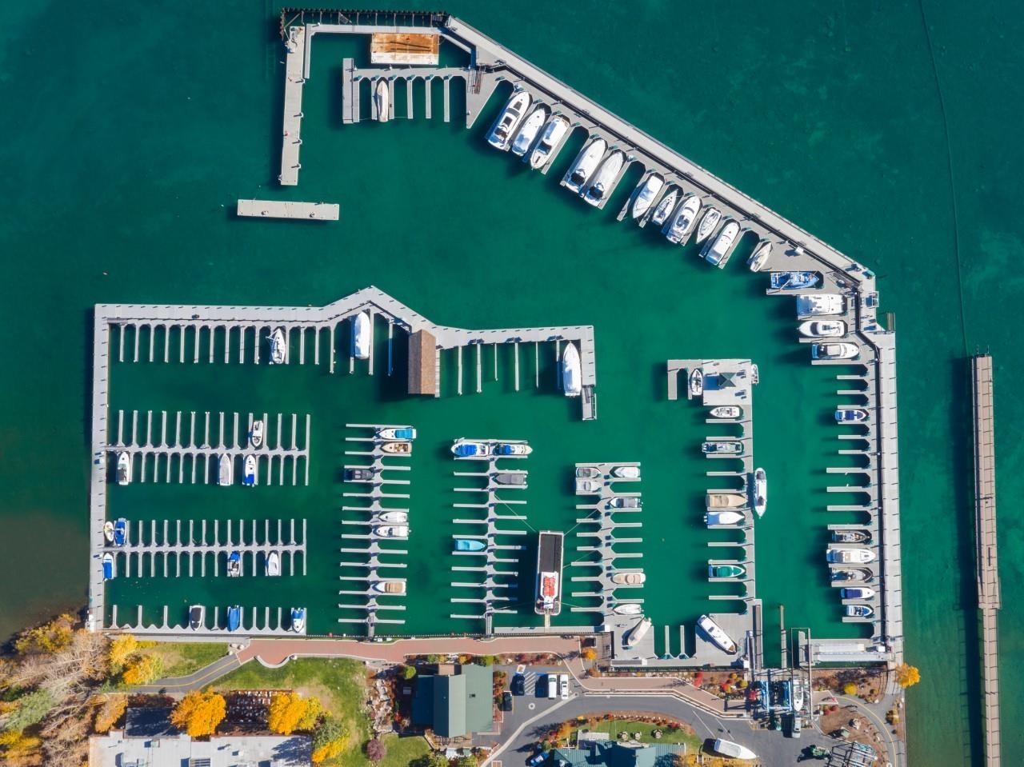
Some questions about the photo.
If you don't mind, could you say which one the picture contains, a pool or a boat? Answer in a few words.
boat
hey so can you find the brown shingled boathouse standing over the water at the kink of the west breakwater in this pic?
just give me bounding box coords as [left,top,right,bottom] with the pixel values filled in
[409,328,436,394]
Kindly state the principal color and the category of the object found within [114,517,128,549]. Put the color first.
blue boat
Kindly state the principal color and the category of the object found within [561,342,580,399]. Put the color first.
white boat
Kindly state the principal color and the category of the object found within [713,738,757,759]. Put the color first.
white boat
